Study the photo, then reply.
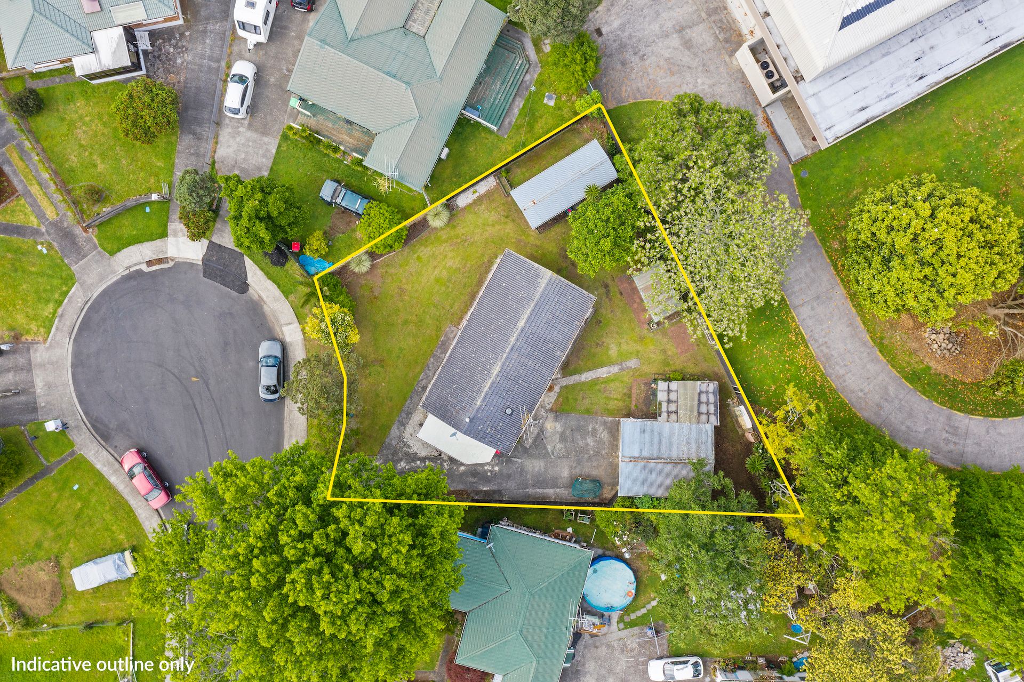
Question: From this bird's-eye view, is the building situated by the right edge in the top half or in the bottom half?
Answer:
top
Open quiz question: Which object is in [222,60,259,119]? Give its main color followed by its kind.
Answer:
white car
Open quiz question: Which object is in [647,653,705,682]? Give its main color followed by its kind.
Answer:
white car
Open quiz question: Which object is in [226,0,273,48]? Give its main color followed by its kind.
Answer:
white camper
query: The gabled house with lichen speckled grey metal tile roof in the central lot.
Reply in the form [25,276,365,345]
[417,248,597,464]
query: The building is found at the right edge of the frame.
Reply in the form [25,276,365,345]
[728,0,1024,153]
